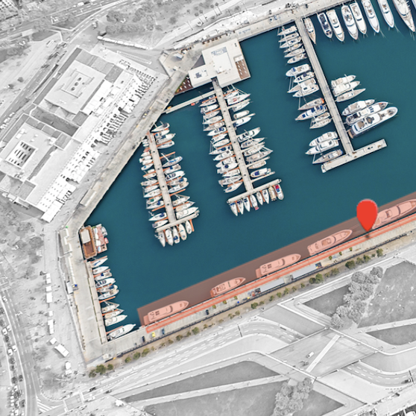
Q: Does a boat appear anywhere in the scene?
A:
Yes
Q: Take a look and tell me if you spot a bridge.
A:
Yes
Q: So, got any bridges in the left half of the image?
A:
No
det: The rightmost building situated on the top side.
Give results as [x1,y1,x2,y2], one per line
[189,38,251,91]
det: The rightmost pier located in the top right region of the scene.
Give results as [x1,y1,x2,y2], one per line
[295,20,387,172]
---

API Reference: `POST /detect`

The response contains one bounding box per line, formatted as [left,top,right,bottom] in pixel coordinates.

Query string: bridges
[271,328,378,379]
